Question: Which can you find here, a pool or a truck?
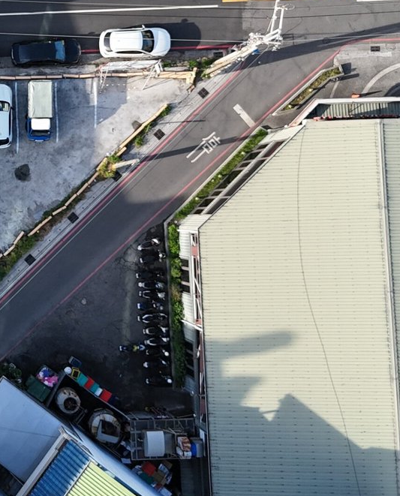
truck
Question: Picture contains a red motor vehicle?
No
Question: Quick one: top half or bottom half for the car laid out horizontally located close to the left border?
top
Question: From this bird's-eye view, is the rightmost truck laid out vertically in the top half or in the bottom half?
top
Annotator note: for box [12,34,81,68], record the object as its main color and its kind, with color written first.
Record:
black car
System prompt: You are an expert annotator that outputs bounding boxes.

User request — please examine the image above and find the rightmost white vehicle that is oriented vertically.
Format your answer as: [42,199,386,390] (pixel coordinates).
[26,79,57,143]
